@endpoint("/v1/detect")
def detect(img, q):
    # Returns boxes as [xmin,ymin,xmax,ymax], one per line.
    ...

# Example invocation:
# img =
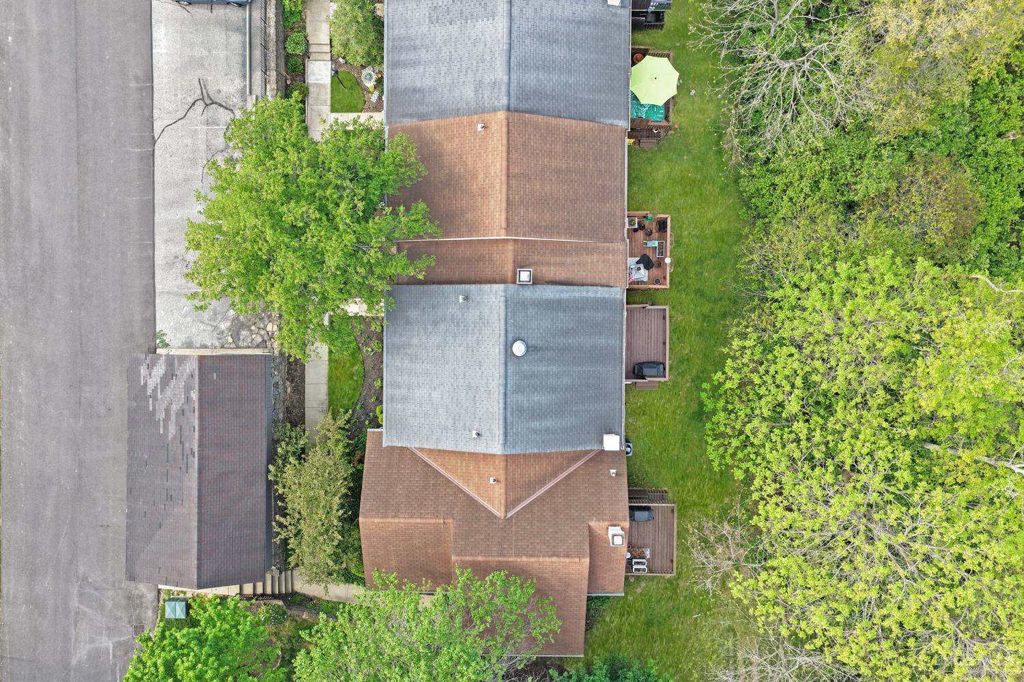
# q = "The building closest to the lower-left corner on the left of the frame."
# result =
[126,354,272,590]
